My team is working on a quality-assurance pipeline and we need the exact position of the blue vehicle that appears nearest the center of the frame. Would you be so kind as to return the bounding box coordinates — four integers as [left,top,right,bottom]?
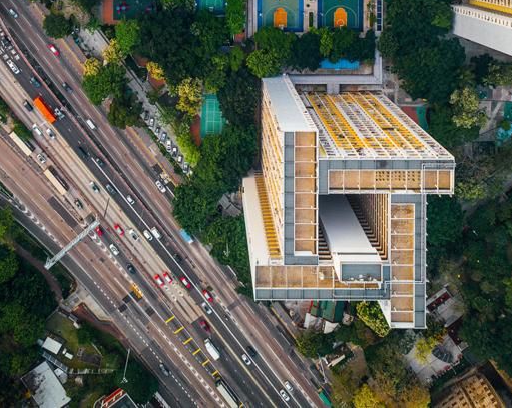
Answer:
[178,225,195,244]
